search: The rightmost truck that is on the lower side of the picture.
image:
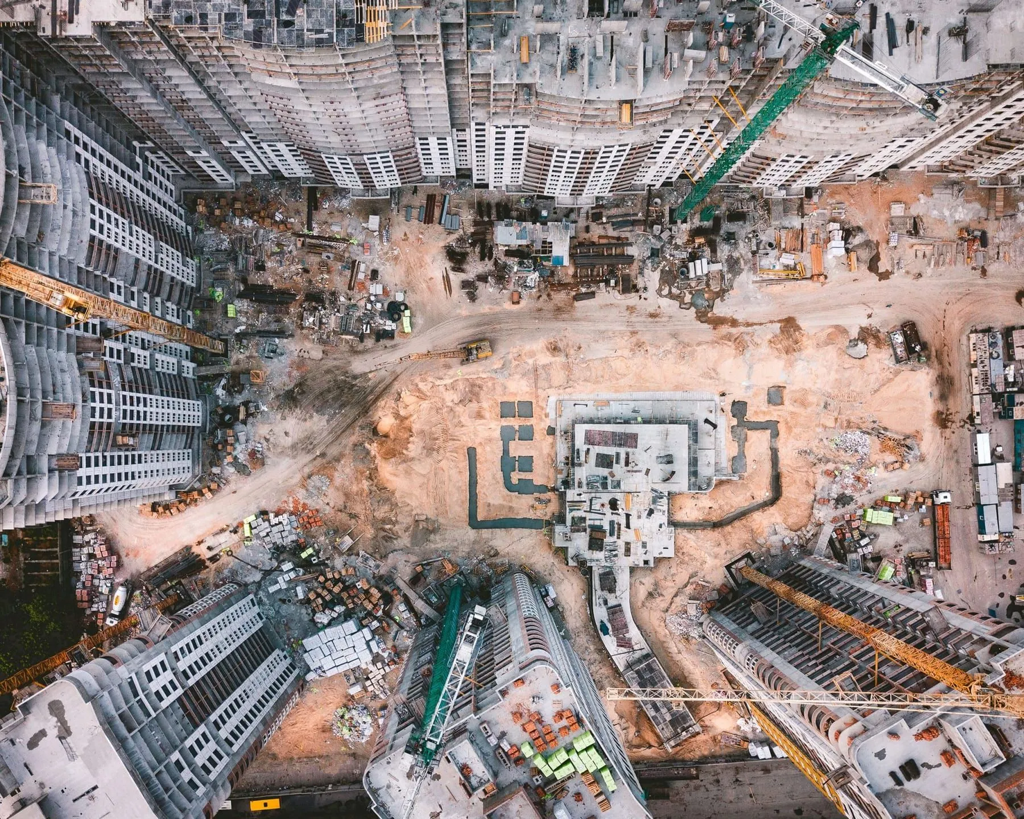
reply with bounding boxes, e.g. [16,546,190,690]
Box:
[938,488,959,580]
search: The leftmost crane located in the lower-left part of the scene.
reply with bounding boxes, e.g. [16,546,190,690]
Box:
[0,578,198,696]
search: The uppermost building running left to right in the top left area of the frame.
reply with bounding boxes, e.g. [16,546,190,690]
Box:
[0,0,472,201]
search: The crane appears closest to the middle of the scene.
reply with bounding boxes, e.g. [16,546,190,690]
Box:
[381,341,490,380]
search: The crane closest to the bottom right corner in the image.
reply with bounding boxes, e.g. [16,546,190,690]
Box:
[608,554,1024,718]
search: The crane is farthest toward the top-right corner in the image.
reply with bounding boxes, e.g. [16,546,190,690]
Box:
[669,0,950,233]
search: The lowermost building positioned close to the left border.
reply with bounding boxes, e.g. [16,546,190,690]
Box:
[0,579,306,819]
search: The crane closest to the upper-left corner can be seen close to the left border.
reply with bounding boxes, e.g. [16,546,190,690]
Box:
[0,250,233,355]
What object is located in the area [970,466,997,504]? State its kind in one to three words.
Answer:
building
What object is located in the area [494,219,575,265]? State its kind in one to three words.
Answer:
shed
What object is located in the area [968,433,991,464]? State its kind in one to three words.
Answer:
building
